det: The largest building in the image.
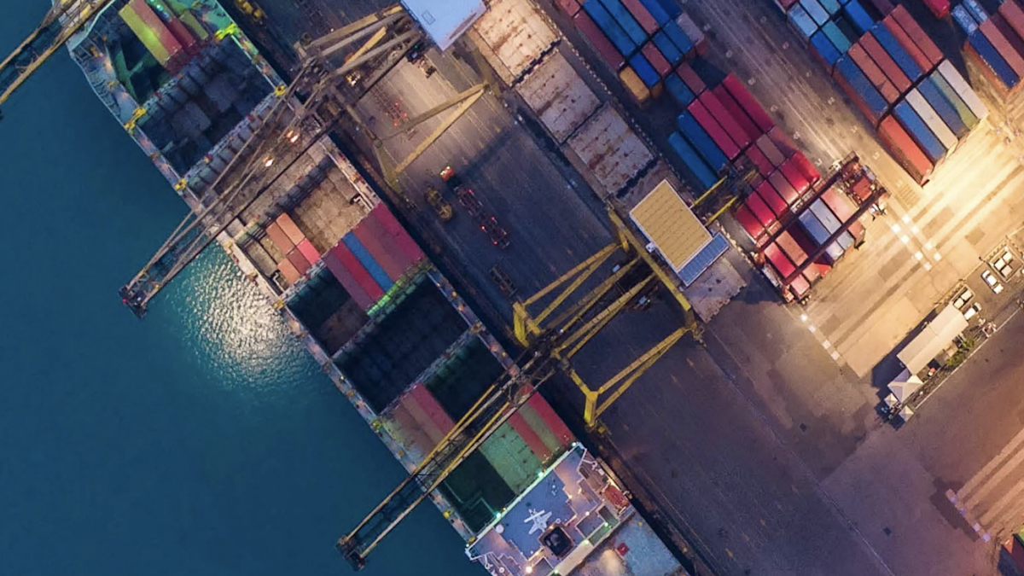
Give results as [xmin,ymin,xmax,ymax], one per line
[896,302,971,377]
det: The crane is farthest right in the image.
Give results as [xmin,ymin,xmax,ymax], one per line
[751,147,898,306]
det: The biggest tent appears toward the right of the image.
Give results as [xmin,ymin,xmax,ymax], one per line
[884,367,922,406]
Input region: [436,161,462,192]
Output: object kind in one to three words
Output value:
truck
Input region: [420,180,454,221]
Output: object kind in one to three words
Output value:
work vehicle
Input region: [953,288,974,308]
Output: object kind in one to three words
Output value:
car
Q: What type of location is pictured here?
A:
port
